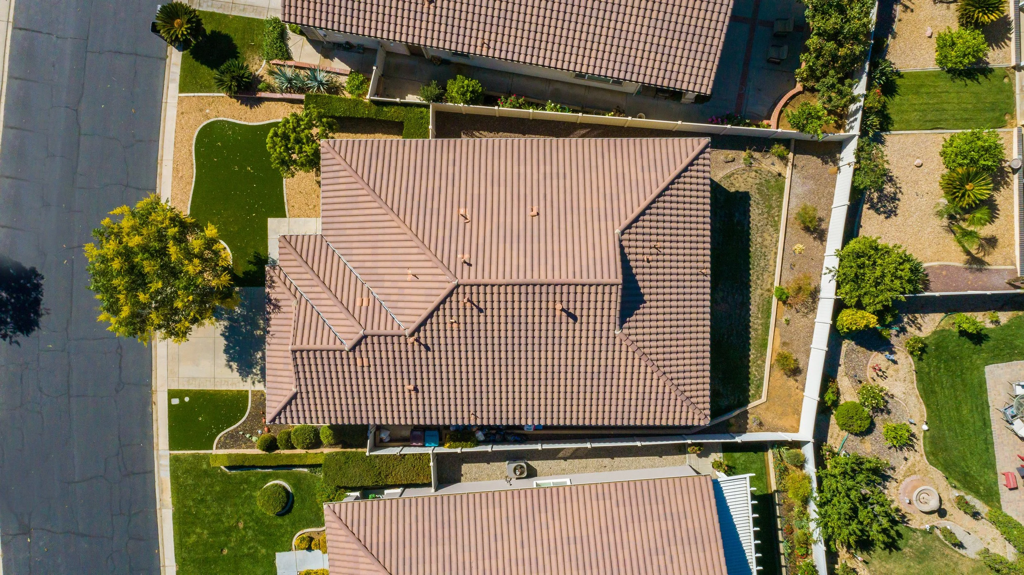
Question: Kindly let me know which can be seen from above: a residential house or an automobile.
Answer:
residential house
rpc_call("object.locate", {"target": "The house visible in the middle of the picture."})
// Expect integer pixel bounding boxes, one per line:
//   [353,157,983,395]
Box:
[262,135,714,428]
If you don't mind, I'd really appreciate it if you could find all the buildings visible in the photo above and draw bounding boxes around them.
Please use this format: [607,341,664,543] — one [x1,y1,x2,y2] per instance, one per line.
[280,0,736,105]
[320,468,731,575]
[262,135,714,428]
